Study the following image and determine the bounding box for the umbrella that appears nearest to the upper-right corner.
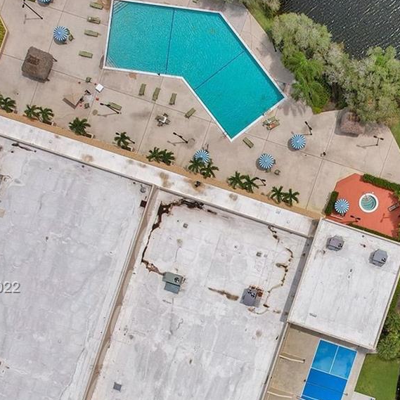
[290,134,307,151]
